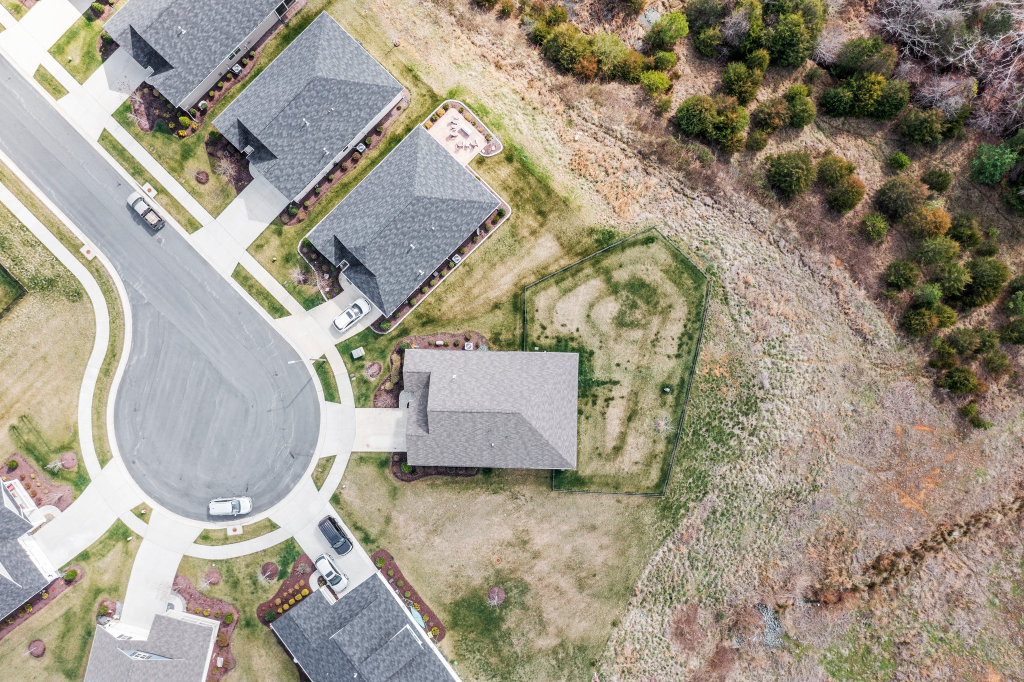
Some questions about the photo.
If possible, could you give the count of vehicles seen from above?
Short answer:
five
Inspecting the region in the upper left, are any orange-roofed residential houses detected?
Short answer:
No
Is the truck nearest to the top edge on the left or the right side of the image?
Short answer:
left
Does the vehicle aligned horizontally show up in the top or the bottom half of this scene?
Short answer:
bottom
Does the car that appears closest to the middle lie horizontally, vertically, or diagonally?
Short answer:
diagonally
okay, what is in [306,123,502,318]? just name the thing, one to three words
house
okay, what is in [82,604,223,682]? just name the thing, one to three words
house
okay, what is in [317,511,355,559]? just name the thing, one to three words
car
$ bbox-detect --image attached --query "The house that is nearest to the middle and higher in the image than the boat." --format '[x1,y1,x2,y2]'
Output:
[402,346,579,469]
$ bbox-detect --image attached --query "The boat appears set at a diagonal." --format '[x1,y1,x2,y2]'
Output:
[410,607,426,629]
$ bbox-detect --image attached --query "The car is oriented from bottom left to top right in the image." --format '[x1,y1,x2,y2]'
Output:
[332,297,374,334]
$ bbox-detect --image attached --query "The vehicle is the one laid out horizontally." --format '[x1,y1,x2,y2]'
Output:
[207,494,256,517]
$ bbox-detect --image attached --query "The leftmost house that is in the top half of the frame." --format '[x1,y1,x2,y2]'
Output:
[102,0,280,109]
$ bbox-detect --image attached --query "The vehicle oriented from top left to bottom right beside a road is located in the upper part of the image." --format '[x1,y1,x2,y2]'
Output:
[123,189,171,237]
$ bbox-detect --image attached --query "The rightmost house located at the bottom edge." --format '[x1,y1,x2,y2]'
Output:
[270,568,452,682]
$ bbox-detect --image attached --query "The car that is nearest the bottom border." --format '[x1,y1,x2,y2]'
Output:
[315,550,349,594]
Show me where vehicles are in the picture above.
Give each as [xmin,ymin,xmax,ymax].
[317,511,355,559]
[332,297,374,334]
[315,550,349,594]
[123,189,171,237]
[207,494,256,517]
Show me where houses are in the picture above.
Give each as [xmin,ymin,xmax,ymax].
[82,604,223,682]
[212,10,405,205]
[270,568,452,682]
[0,475,60,619]
[102,0,280,109]
[402,346,579,469]
[306,123,502,318]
